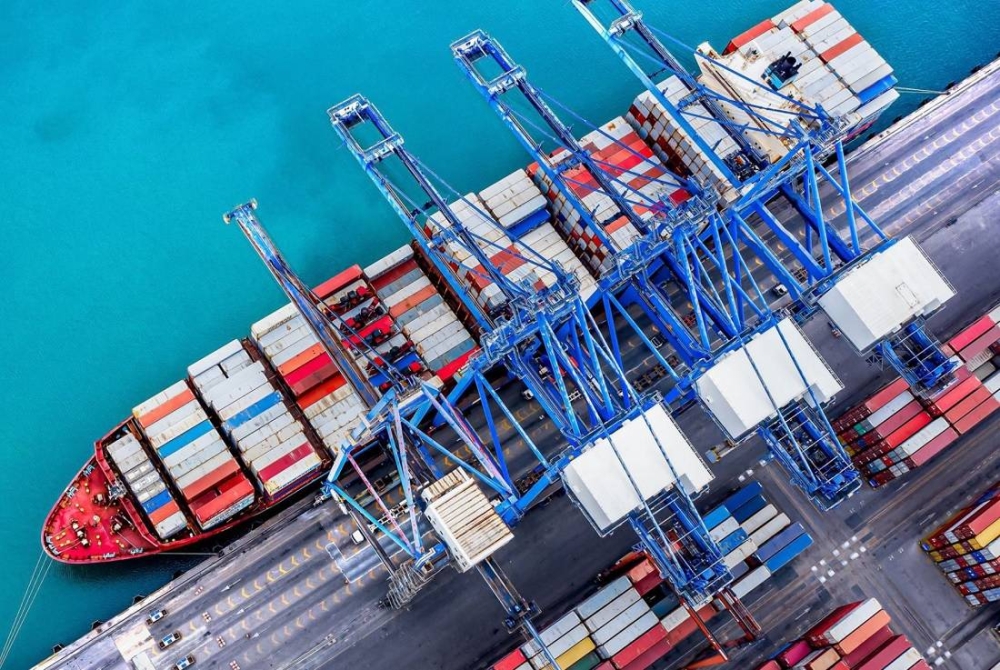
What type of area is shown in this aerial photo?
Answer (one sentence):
What you see here is a port.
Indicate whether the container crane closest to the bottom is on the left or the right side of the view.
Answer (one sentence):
It is on the right.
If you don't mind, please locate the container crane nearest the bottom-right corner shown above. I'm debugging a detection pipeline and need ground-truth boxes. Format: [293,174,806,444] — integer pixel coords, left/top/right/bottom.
[583,527,766,670]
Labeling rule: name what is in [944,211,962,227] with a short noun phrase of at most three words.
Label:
car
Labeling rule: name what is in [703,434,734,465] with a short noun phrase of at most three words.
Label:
truck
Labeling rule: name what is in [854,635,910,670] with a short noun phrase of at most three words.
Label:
shipping container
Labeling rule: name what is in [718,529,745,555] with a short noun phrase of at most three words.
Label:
shipping container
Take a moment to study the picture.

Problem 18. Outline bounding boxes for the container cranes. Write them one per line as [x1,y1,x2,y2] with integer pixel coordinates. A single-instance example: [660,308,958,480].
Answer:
[450,31,854,515]
[583,527,766,670]
[226,197,564,670]
[327,95,732,608]
[569,0,960,403]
